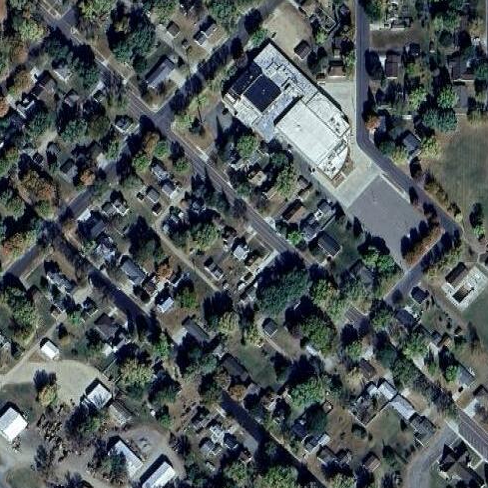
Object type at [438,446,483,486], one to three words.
building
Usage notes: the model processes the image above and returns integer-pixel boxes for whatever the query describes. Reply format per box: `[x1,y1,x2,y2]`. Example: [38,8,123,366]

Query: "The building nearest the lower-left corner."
[0,409,27,443]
